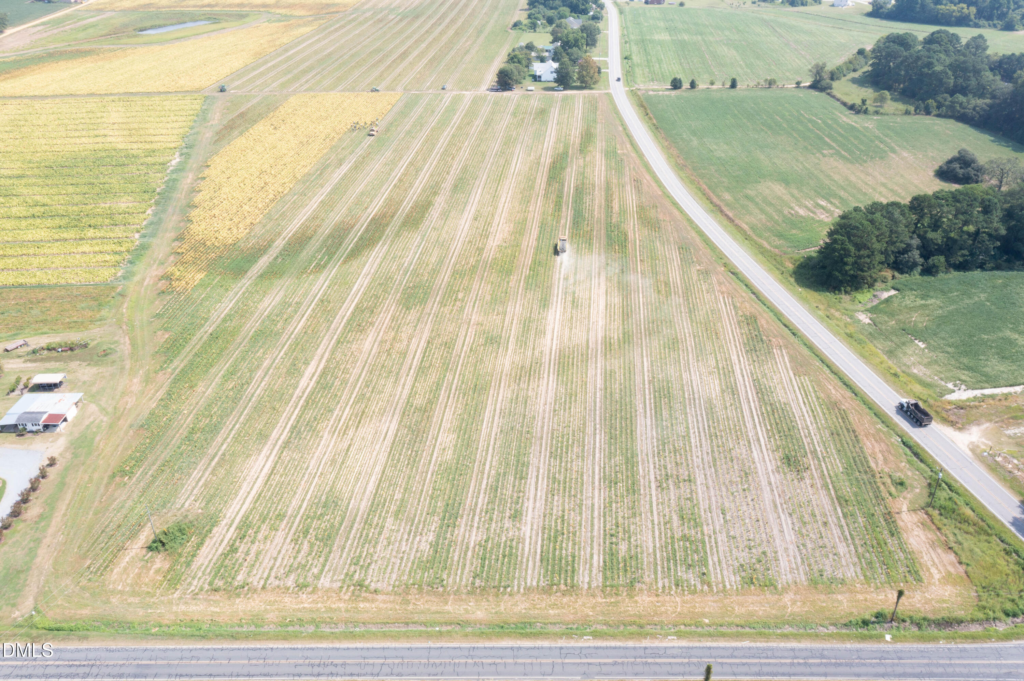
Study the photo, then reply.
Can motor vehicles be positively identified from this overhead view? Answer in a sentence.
Yes, there is a motor vehicle in the image.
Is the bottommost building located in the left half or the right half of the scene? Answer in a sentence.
It is on the left.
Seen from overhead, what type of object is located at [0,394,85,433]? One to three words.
building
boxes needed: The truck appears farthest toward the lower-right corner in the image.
[898,400,934,427]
